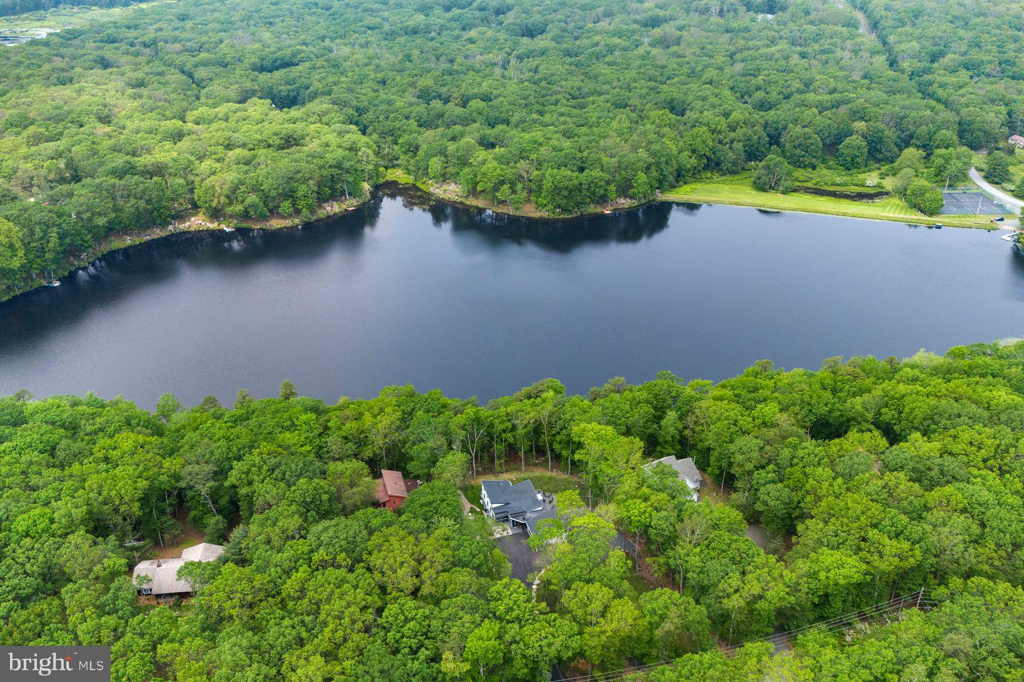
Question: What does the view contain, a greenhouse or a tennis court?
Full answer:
Of the two, only a tennis court appears.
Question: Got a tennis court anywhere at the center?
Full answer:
No, there's no tennis court to be seen at the center.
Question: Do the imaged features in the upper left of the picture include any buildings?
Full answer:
No, the scene shows no building in the upper left of the picture.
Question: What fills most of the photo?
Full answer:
The bulk of the photo consists of trees.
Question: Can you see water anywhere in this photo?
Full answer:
Yes, the picture does contain water.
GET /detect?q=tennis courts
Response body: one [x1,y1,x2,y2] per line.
[926,185,1015,214]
